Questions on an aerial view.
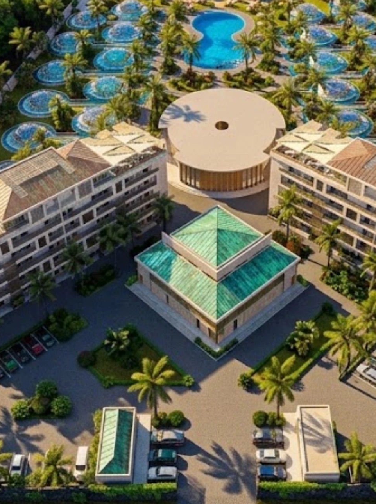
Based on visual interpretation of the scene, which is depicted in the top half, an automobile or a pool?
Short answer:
pool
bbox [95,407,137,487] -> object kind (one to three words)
building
